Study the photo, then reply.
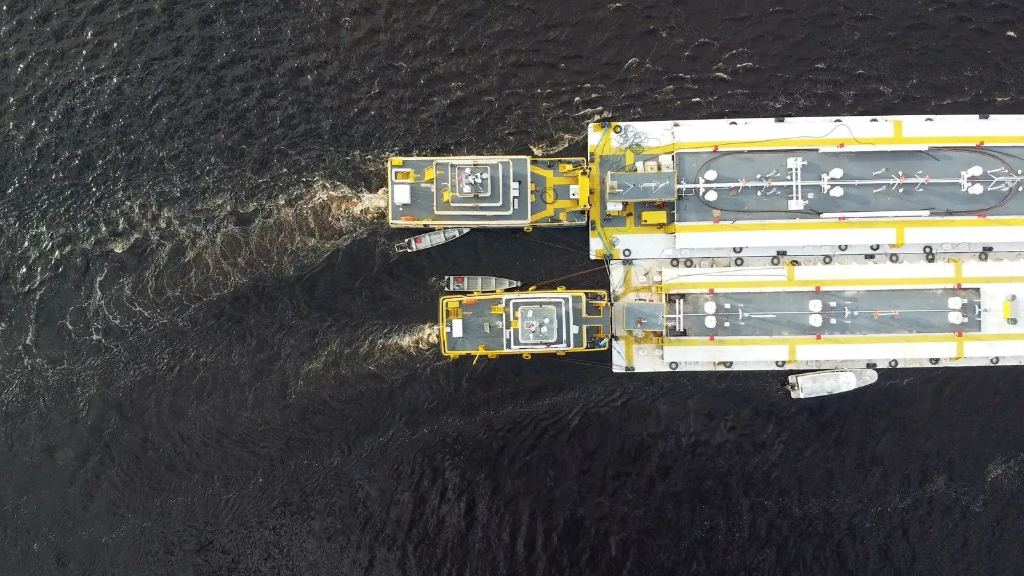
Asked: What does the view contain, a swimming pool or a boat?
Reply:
boat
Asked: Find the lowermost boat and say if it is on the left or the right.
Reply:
right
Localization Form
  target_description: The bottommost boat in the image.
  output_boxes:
[785,367,878,398]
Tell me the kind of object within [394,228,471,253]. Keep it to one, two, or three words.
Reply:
boat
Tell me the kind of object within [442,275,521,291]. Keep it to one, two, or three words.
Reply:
boat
